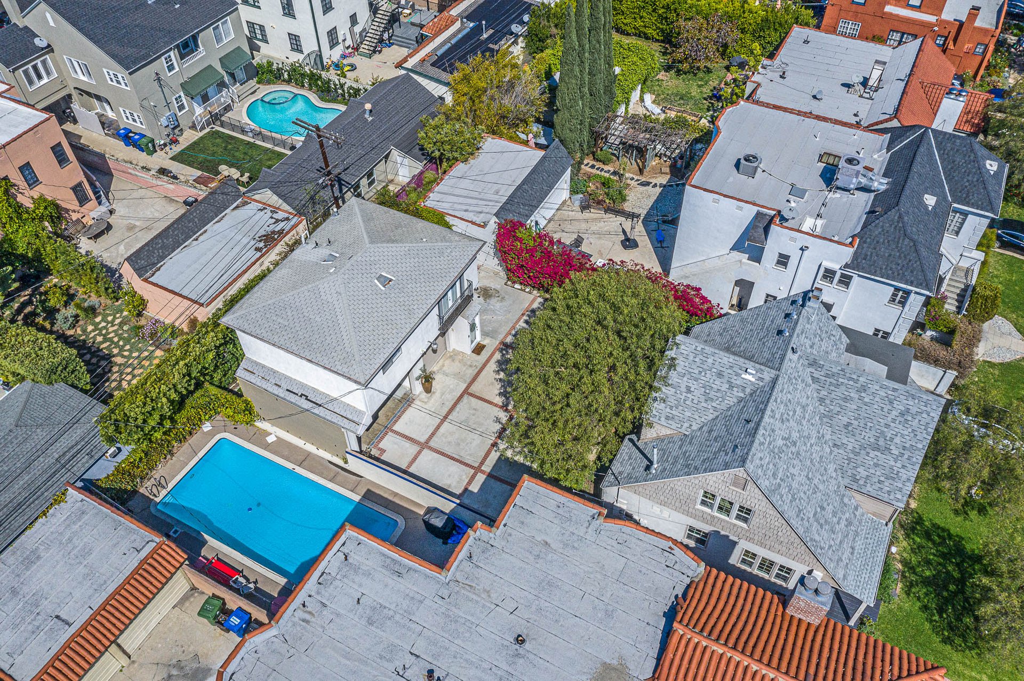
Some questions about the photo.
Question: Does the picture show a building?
Yes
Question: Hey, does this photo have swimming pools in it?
Yes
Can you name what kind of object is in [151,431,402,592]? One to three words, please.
swimming pool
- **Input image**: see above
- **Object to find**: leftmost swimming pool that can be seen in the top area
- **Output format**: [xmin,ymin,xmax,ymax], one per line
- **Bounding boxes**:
[224,84,345,142]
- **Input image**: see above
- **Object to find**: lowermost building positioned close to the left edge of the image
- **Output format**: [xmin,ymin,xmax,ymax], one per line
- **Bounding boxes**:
[0,484,189,681]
